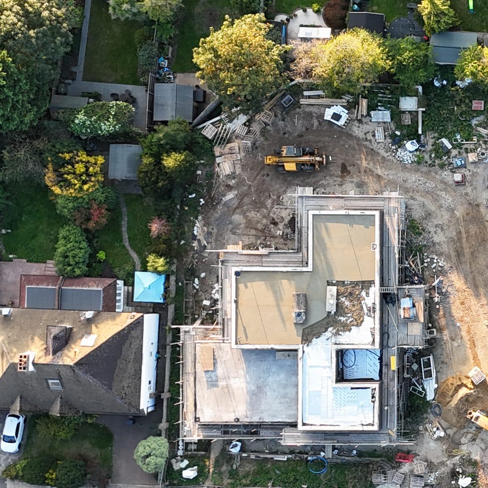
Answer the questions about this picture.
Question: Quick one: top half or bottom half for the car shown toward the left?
bottom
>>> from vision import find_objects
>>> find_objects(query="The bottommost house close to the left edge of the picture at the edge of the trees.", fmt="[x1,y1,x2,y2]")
[0,306,157,416]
